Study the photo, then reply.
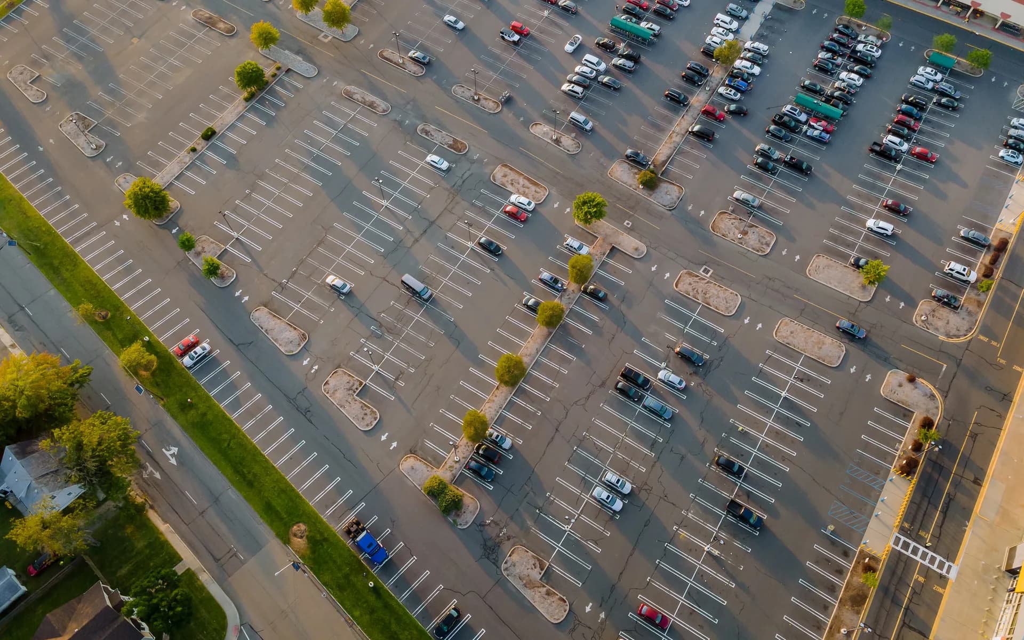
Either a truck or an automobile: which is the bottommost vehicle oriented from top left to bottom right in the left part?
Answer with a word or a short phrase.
truck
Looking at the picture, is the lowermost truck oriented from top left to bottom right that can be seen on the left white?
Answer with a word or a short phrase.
No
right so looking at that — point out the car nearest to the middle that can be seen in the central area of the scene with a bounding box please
[518,295,540,313]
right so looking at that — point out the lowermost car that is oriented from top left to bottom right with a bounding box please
[635,602,672,633]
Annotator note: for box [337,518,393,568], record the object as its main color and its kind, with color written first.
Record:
blue truck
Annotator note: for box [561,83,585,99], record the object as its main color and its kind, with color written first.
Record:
white car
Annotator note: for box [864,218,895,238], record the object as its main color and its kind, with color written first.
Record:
white car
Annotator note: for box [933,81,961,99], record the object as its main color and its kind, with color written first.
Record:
blue car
